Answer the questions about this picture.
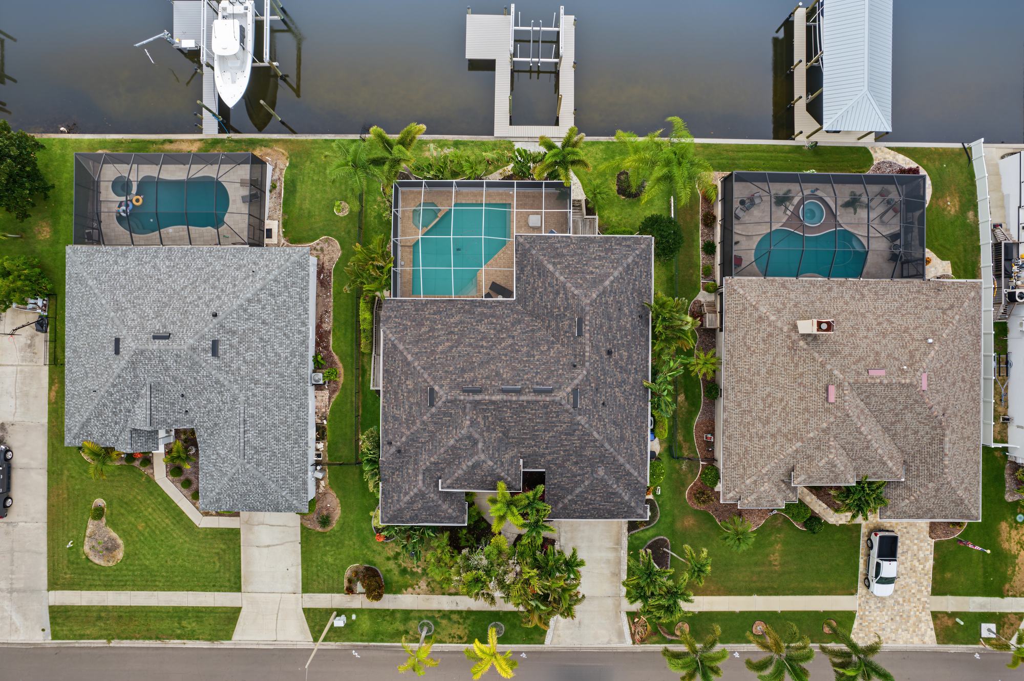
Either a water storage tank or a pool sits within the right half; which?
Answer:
pool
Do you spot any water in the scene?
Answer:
Yes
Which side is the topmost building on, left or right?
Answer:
right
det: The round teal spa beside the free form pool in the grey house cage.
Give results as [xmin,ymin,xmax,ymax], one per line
[108,173,133,198]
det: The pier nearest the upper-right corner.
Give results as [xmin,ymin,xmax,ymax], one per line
[794,7,874,141]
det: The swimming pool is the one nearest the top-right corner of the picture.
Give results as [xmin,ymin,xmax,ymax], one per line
[800,200,825,225]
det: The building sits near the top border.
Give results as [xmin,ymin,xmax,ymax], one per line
[799,0,897,143]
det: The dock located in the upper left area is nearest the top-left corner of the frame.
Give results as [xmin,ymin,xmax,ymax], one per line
[174,0,231,136]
